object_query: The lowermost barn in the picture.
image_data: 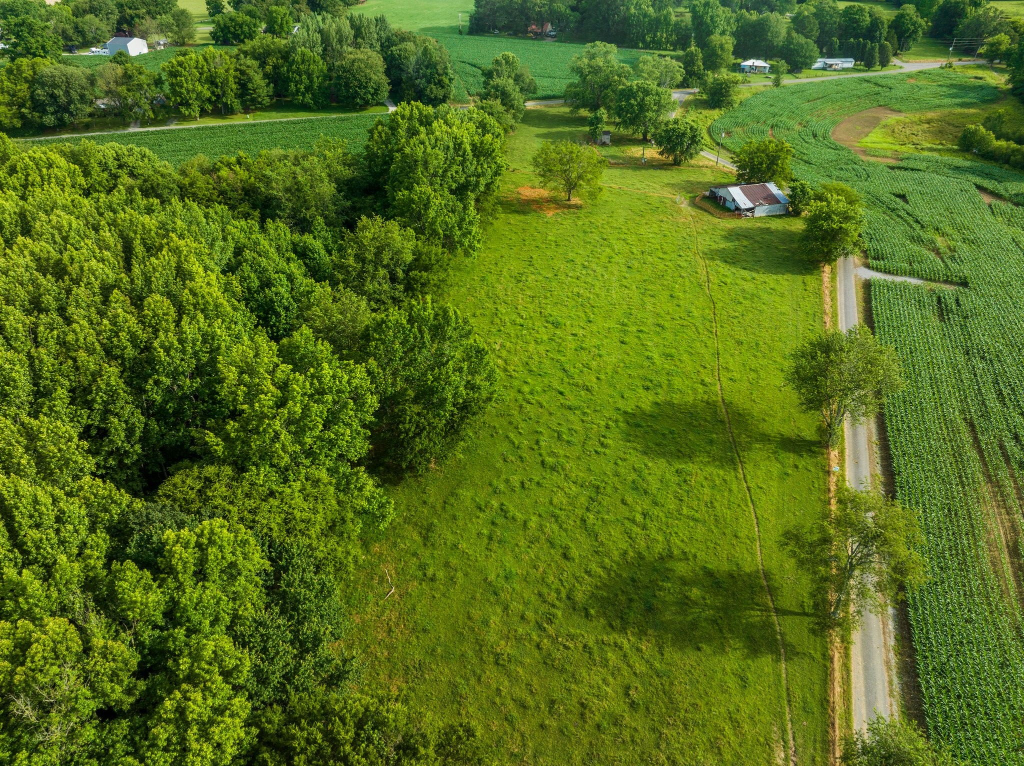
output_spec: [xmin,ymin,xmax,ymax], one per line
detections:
[718,179,793,217]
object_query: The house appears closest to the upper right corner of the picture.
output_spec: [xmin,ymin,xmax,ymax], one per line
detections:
[805,55,856,70]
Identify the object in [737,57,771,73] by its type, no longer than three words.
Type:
house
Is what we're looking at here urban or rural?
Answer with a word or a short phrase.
rural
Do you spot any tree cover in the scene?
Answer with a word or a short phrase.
Yes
